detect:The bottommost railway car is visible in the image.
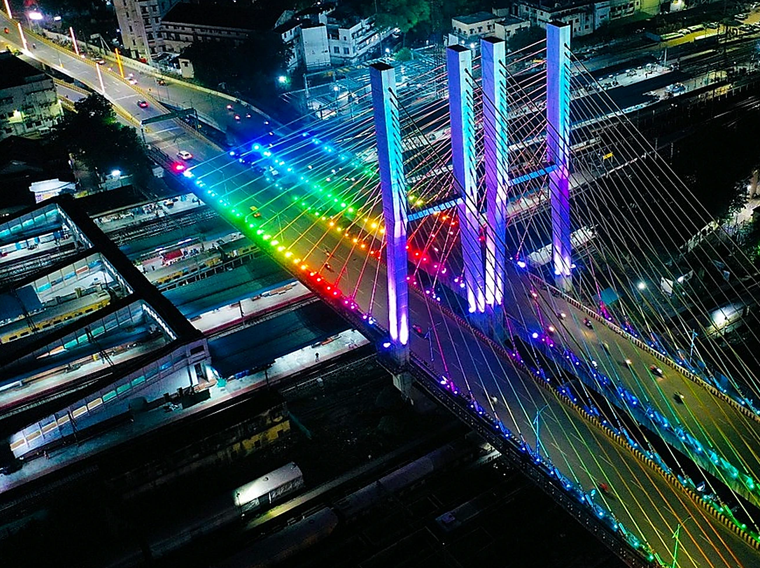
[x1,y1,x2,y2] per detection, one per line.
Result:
[188,499,325,568]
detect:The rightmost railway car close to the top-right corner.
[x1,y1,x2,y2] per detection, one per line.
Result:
[688,82,743,108]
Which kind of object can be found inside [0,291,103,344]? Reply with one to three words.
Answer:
rail car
